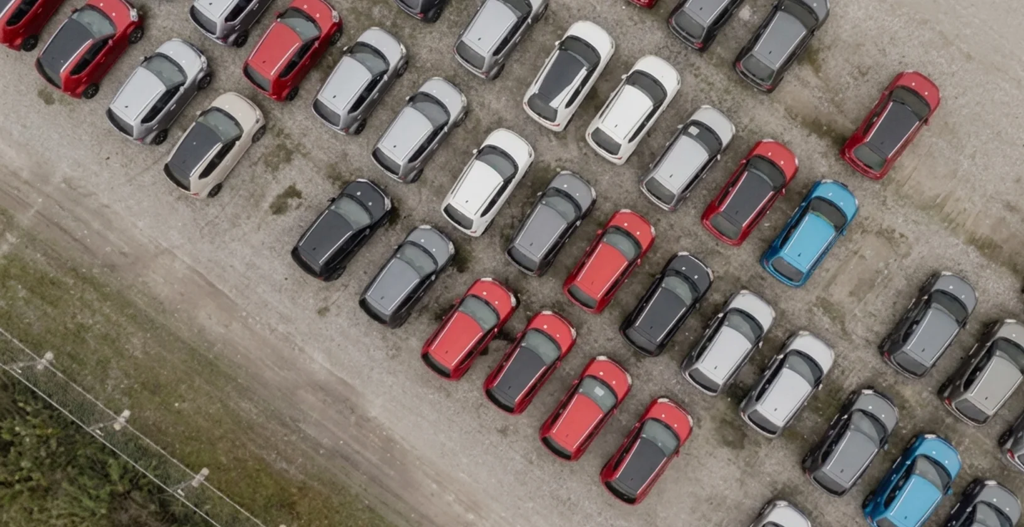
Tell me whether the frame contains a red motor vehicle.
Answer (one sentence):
Yes, the frame does contain a red motor vehicle.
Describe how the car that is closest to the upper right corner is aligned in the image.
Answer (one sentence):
What the image shows is the car that is closest to the upper right corner lying at an angle.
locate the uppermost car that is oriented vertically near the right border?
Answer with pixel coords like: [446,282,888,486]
[996,410,1024,474]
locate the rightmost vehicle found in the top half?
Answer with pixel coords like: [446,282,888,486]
[834,70,938,179]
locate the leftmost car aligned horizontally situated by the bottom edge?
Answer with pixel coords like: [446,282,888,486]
[744,496,811,527]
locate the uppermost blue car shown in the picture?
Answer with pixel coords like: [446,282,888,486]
[755,178,856,287]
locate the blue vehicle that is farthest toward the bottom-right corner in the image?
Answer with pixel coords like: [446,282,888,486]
[856,430,960,527]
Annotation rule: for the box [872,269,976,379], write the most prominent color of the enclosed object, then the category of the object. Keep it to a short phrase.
gray car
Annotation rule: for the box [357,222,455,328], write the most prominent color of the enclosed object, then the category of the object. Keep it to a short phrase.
gray car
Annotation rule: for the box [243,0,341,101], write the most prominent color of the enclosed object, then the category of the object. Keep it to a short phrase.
red car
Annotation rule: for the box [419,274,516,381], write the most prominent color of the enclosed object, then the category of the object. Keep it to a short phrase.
red car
